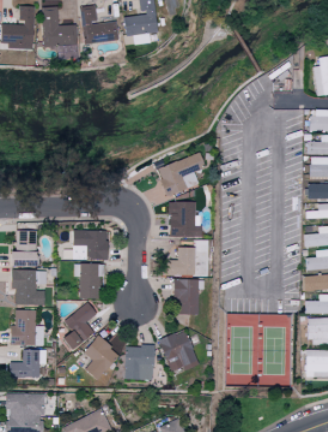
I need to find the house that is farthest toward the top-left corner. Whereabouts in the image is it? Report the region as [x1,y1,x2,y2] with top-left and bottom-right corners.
[2,6,34,50]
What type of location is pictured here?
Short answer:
residential area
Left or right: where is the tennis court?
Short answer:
right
